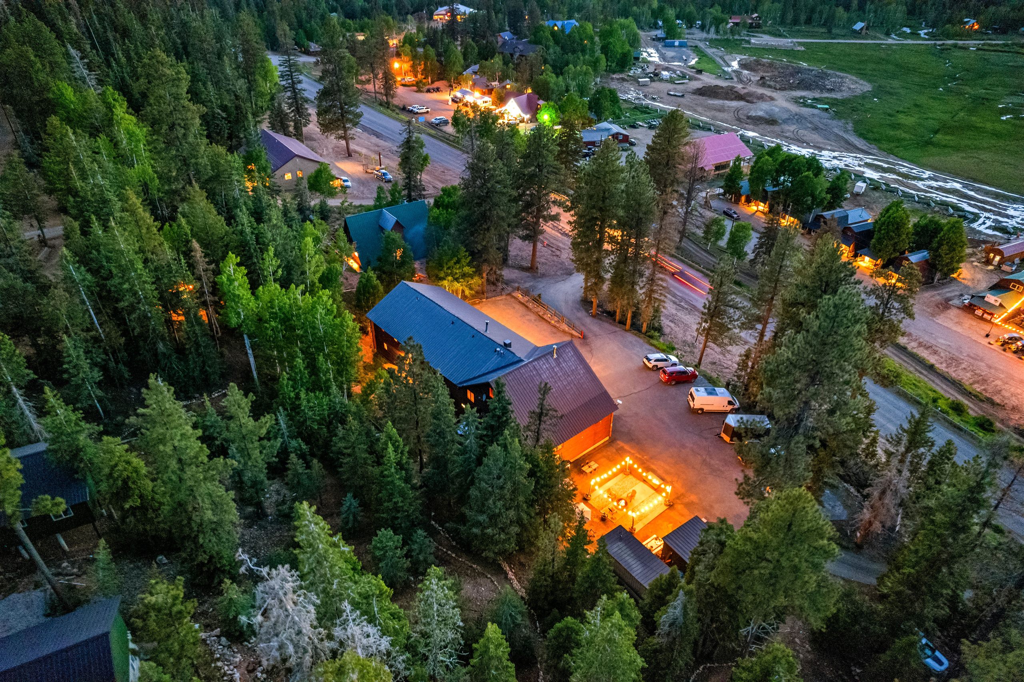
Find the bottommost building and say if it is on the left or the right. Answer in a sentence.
The bottommost building is on the left side of the image.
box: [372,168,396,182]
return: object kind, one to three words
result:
vehicle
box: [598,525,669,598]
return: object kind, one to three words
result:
shed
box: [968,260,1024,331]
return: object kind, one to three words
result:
building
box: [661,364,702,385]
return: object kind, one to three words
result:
car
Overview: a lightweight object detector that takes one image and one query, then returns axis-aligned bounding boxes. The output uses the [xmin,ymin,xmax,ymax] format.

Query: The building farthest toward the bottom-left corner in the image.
[0,595,146,682]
